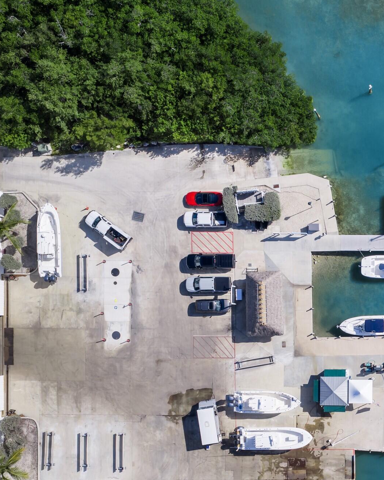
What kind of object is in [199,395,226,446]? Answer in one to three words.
truck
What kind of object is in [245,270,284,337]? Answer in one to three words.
shed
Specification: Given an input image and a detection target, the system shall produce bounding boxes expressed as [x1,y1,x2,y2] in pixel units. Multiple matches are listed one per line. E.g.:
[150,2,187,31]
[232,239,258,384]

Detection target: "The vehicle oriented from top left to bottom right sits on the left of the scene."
[83,209,136,252]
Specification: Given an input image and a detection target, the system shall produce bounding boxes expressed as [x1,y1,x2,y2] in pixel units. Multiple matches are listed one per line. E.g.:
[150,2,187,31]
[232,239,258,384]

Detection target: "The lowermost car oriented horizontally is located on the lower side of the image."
[195,297,232,314]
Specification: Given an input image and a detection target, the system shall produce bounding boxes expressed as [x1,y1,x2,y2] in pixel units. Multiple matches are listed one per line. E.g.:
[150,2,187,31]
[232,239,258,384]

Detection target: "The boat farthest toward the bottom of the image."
[230,426,313,451]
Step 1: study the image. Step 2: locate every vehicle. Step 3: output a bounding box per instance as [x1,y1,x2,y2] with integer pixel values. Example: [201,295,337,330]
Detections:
[186,251,237,270]
[185,189,223,209]
[195,297,232,314]
[184,209,230,228]
[199,395,226,446]
[186,275,233,294]
[83,209,136,252]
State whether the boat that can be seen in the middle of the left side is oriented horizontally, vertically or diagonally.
vertically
